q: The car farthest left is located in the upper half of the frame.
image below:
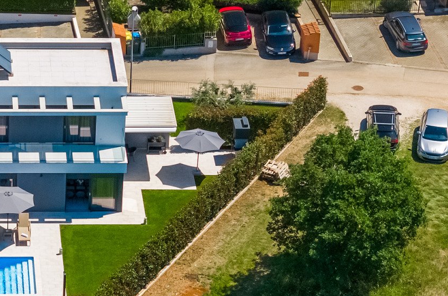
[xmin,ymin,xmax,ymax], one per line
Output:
[220,9,254,44]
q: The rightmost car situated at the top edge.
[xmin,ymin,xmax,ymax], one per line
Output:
[389,14,434,51]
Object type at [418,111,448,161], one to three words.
car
